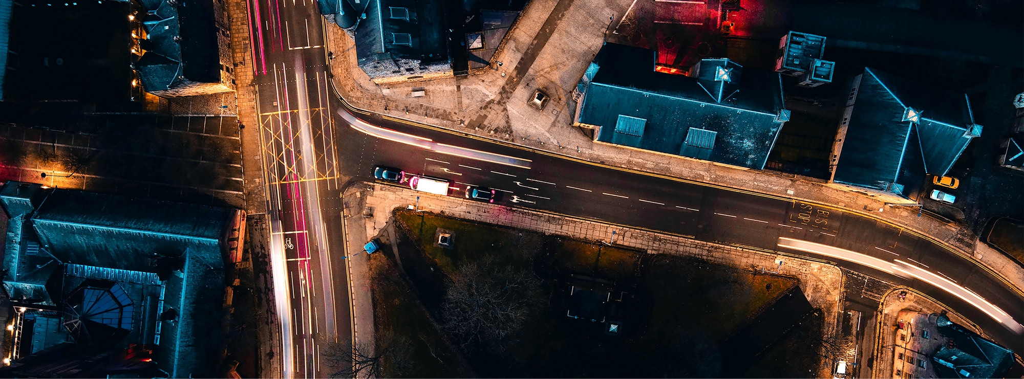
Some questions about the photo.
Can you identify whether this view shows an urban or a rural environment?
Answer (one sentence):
From above, the setting appears urban.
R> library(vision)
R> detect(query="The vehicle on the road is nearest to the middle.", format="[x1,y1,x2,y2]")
[465,185,497,202]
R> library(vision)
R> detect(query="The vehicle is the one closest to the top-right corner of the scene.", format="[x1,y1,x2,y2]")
[935,174,966,190]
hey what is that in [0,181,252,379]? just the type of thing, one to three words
building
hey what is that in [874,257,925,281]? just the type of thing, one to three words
vehicle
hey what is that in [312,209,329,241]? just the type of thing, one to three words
car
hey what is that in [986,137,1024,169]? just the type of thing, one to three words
house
